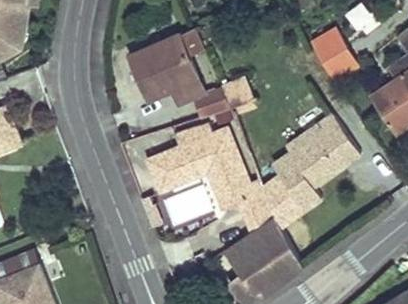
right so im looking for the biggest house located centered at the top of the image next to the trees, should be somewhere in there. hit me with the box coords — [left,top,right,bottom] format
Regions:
[128,28,206,106]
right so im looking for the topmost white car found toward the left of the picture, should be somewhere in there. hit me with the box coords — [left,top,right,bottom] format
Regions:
[140,101,161,116]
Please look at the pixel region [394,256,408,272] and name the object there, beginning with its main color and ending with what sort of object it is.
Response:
white car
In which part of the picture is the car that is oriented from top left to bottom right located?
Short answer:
right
